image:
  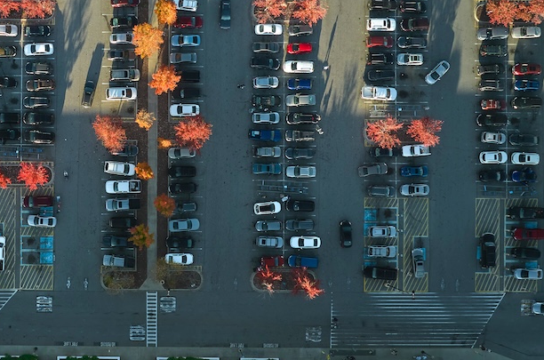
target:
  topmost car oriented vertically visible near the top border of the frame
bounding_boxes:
[218,0,231,29]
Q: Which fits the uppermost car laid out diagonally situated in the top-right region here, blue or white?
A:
blue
